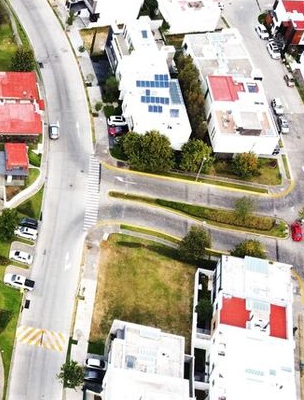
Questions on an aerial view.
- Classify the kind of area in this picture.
residential area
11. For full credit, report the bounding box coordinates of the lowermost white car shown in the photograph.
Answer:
[83,356,103,370]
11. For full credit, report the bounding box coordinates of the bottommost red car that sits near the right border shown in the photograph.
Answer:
[290,222,302,241]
